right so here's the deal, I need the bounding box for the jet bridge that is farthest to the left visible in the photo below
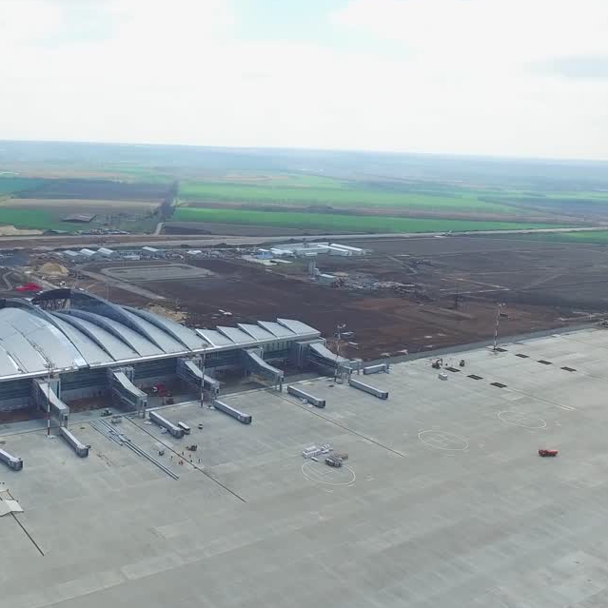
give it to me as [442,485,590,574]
[27,372,69,427]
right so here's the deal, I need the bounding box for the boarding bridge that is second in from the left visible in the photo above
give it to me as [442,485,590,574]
[99,363,148,416]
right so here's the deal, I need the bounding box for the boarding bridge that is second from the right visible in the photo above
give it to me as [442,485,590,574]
[232,345,286,391]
